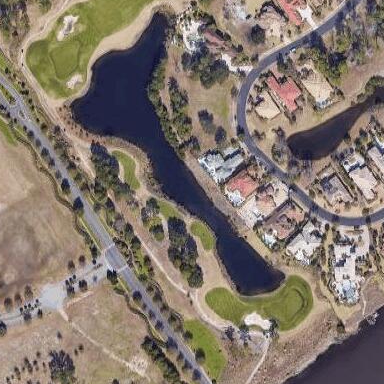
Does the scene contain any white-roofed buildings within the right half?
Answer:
Yes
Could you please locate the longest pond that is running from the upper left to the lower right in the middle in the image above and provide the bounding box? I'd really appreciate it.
[71,13,284,295]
